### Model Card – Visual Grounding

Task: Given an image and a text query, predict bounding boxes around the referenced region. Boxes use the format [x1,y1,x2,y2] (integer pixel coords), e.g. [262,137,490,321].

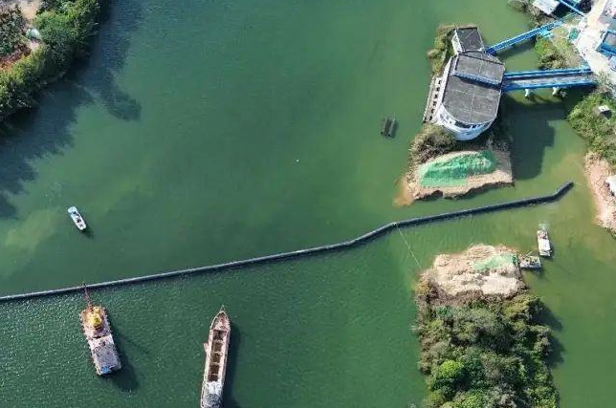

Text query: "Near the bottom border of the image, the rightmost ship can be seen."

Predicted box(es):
[200,306,233,408]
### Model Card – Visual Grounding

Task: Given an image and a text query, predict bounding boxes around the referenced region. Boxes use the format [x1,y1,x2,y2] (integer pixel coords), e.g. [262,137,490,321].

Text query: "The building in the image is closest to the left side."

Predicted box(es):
[420,27,506,141]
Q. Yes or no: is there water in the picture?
Yes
